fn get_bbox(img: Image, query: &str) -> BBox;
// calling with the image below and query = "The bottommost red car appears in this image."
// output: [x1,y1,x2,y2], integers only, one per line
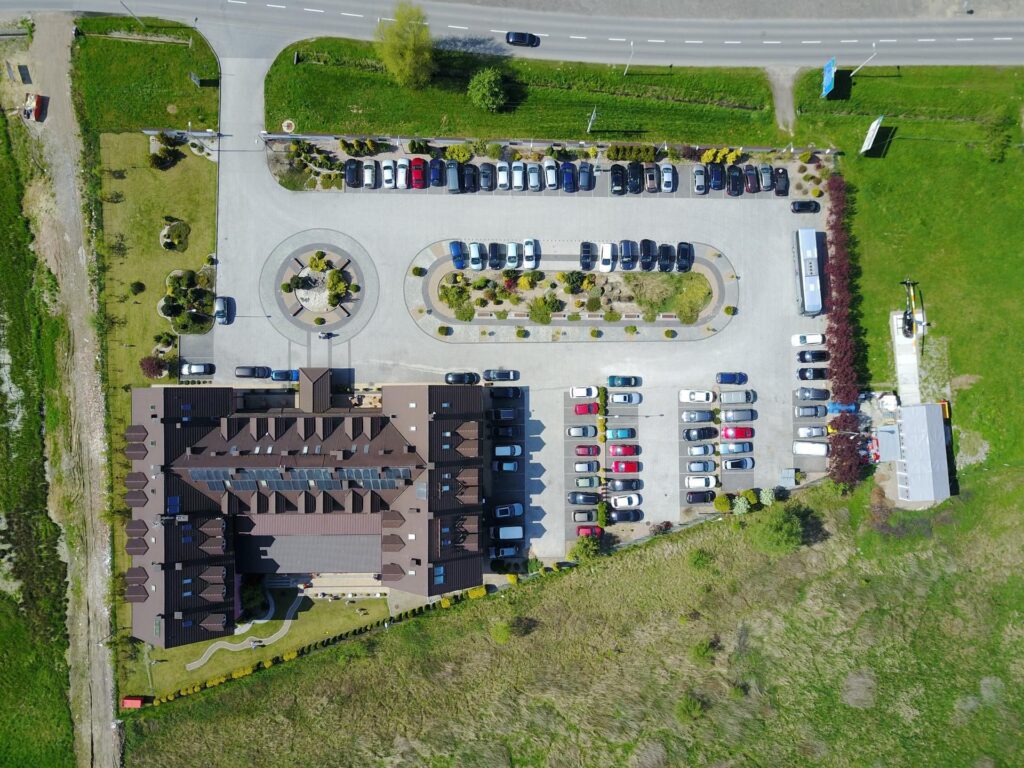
[576,525,603,539]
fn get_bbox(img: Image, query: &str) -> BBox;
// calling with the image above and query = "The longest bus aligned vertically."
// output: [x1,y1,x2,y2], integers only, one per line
[796,229,824,315]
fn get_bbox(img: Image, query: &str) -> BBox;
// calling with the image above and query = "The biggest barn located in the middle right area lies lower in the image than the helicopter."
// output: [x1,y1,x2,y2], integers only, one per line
[883,405,950,501]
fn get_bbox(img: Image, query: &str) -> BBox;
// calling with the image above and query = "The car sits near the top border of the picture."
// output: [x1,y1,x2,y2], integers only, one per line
[506,32,537,50]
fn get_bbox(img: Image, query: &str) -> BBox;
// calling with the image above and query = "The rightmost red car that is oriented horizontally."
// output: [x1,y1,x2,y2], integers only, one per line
[721,426,752,440]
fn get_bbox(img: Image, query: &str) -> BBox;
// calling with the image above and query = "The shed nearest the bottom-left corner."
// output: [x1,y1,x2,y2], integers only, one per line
[123,694,148,709]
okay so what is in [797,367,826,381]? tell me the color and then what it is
black car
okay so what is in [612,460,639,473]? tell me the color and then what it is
red vehicle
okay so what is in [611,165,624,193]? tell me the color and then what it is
black vehicle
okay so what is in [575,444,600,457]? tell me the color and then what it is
red vehicle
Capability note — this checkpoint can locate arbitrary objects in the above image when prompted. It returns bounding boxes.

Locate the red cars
[612,460,639,473]
[573,402,600,415]
[610,444,638,457]
[575,444,600,457]
[576,525,603,539]
[411,158,426,190]
[721,426,752,440]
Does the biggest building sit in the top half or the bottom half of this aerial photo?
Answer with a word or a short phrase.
bottom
